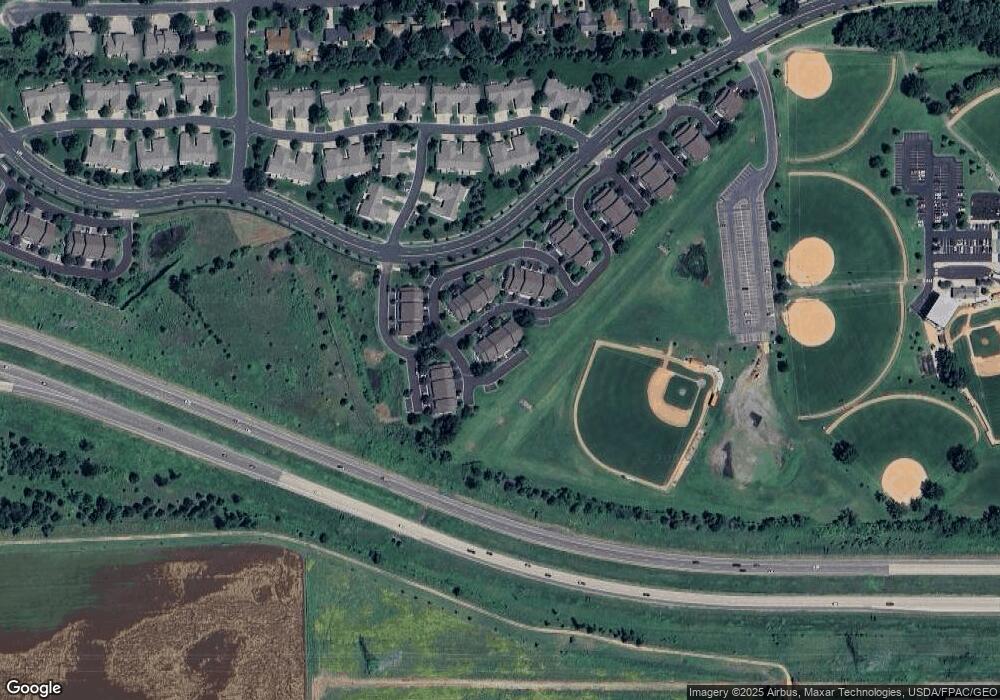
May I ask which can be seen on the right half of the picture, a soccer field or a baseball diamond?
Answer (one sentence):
It is a baseball diamond that can be seen on the right half of the picture.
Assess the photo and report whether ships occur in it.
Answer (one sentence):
No, no ship is visible in the view.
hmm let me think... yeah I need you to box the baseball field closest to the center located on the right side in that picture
[573,338,724,490]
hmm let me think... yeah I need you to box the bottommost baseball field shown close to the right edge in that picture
[824,394,984,510]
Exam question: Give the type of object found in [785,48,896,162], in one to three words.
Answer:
baseball field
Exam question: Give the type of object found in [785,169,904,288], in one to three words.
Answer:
baseball field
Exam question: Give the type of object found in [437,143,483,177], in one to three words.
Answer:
house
